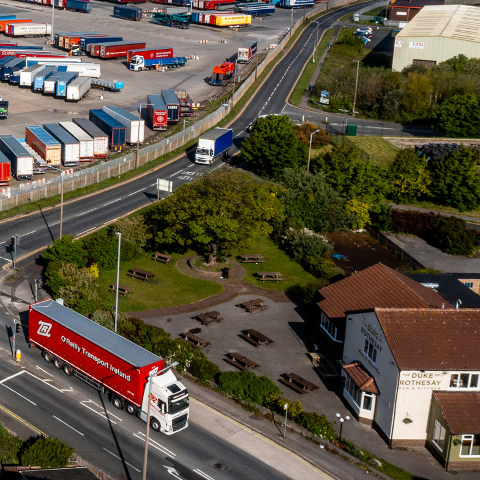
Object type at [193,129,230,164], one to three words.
truck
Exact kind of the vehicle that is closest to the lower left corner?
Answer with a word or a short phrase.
truck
